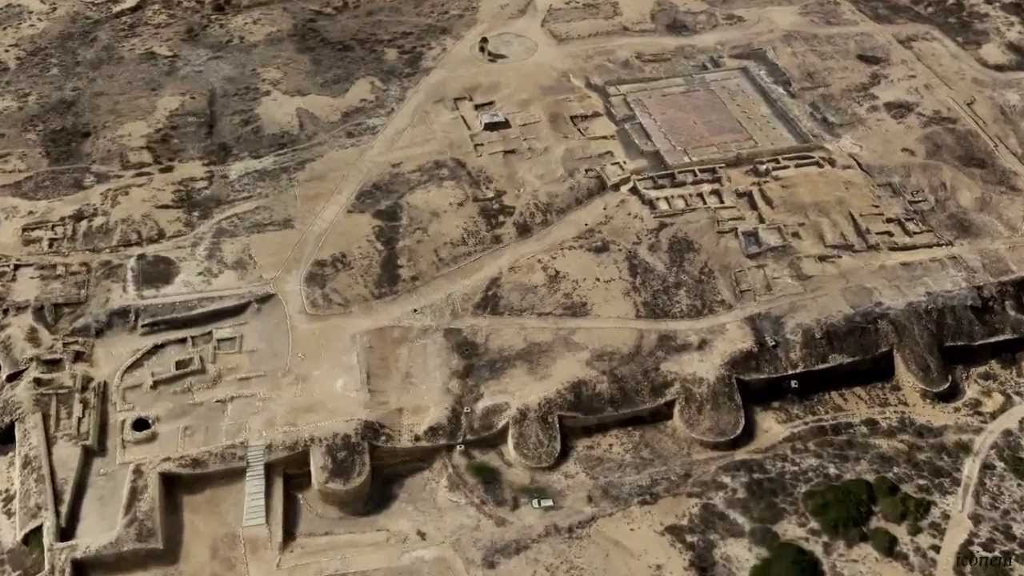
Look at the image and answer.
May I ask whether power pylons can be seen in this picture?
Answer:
No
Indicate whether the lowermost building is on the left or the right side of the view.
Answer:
left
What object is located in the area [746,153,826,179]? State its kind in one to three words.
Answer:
building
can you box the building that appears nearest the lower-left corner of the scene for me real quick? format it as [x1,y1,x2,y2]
[40,334,97,372]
